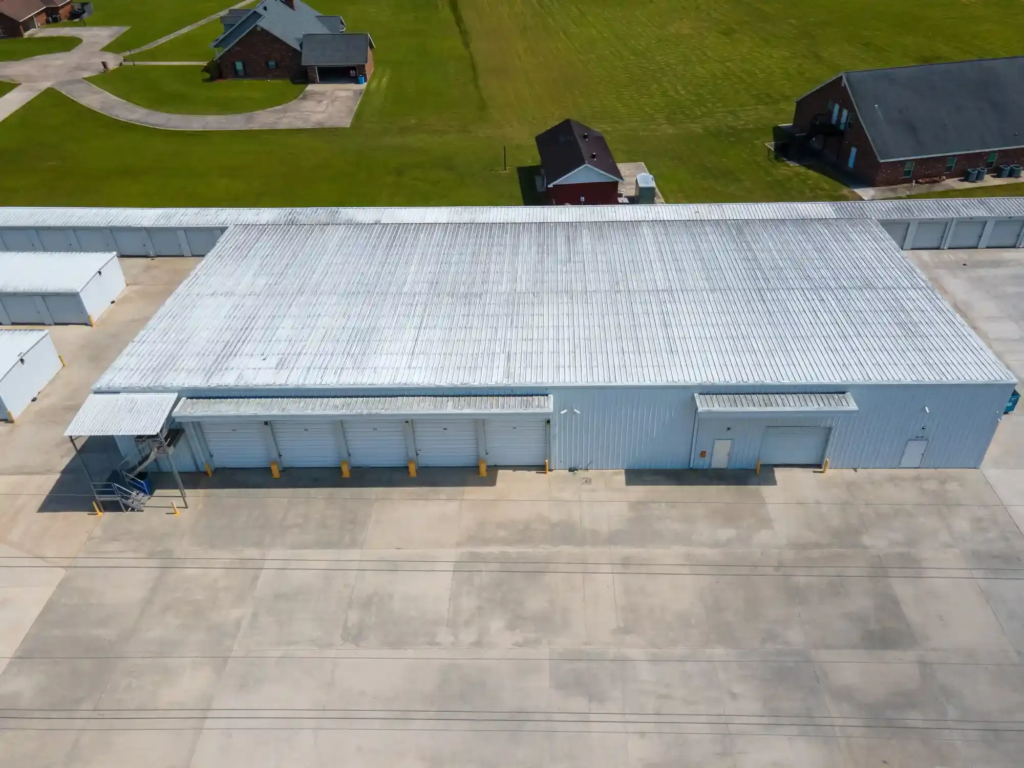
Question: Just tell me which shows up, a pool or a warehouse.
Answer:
warehouse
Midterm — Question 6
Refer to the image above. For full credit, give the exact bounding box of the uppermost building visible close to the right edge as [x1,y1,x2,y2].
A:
[788,57,1024,186]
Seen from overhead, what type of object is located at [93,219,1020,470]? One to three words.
warehouse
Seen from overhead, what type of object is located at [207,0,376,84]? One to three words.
house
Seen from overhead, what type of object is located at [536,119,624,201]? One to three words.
shed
